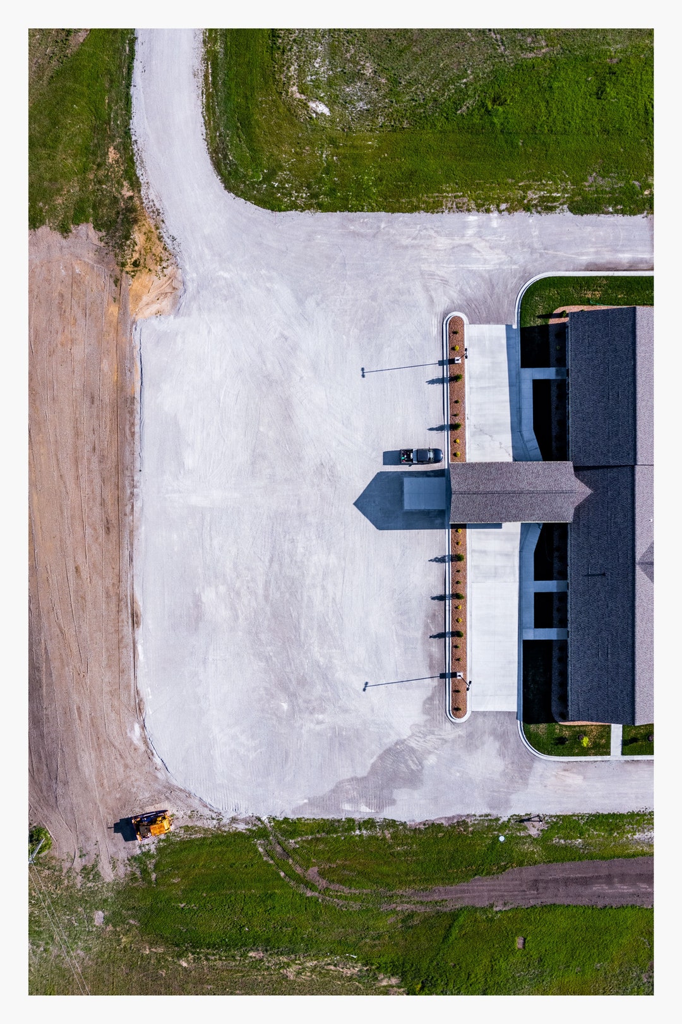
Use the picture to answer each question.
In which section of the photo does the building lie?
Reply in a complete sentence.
You can find the building in the right area of the picture.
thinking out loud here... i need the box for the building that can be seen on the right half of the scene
[449,306,682,726]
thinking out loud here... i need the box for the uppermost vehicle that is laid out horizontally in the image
[400,447,443,465]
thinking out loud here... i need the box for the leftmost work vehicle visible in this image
[127,809,175,841]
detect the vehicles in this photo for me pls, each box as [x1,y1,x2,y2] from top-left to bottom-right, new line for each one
[400,447,443,465]
[127,809,175,841]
